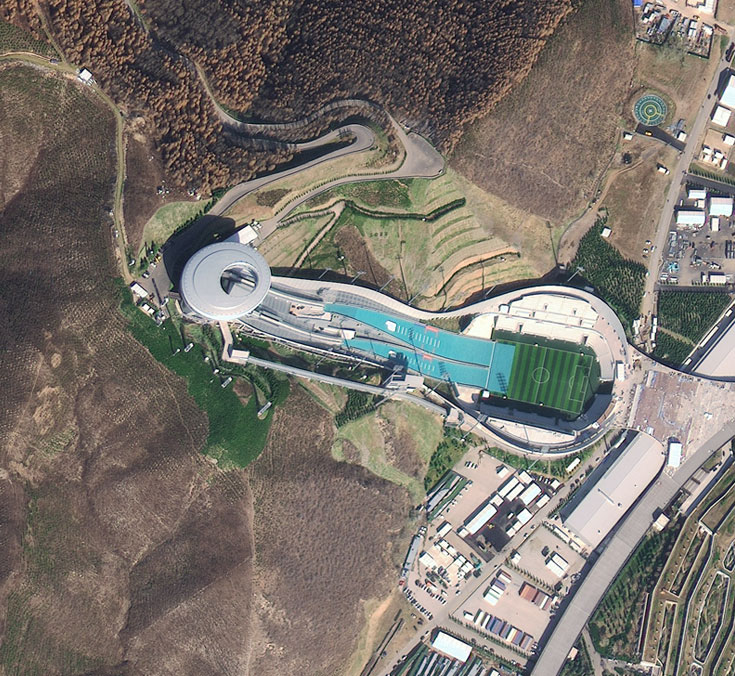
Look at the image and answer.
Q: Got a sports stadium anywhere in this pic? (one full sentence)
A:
Yes, the frame does contain a sports stadium.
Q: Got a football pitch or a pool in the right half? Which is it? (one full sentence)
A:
You can see a football pitch in the right half.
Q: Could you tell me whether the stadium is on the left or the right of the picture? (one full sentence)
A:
The stadium is on the right side of the image.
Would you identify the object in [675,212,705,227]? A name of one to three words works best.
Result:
shed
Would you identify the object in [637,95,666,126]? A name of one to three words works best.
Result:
helipad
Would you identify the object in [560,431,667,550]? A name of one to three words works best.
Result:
building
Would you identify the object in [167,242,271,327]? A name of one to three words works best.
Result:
building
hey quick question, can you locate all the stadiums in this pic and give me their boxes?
[423,293,616,456]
